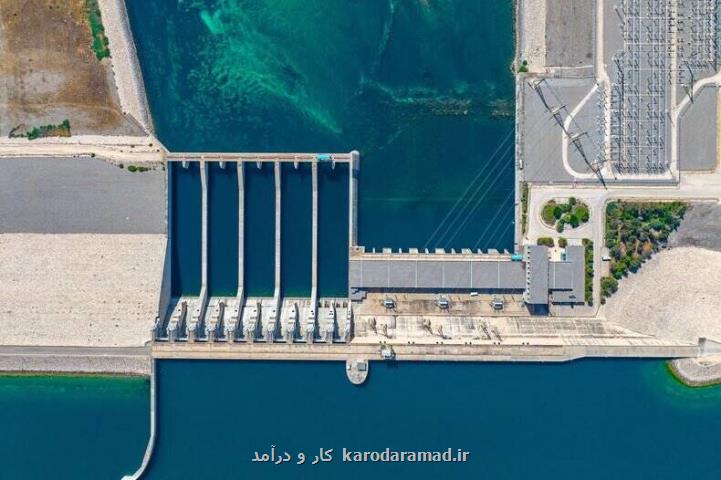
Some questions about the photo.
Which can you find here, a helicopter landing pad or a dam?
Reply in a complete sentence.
The image shows a dam.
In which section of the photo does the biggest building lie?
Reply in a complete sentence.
The biggest building sits in the center section of the image.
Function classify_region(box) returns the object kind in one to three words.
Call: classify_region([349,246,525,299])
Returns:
building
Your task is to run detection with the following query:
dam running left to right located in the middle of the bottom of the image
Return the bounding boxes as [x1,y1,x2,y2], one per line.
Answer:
[152,313,701,385]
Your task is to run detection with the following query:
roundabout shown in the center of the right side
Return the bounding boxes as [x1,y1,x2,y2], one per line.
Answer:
[541,197,590,232]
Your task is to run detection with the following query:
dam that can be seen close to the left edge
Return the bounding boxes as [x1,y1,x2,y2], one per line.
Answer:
[0,233,167,373]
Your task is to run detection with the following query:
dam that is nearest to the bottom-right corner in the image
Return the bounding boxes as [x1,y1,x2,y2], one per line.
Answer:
[601,249,721,384]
